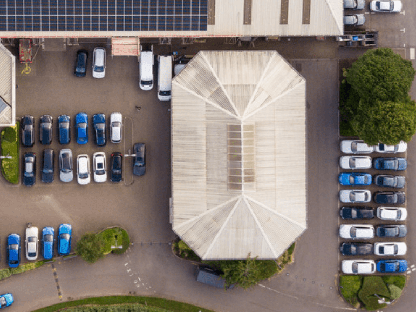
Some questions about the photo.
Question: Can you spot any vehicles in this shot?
Yes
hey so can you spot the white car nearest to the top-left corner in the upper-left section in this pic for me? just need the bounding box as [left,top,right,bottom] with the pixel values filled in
[91,47,106,79]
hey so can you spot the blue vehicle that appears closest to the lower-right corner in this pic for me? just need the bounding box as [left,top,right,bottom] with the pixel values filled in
[375,258,407,275]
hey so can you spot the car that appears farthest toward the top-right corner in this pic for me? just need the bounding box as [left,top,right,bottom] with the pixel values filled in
[369,0,402,13]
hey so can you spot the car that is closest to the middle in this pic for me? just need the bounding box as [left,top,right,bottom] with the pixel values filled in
[132,143,147,176]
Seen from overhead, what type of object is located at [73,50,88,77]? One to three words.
car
